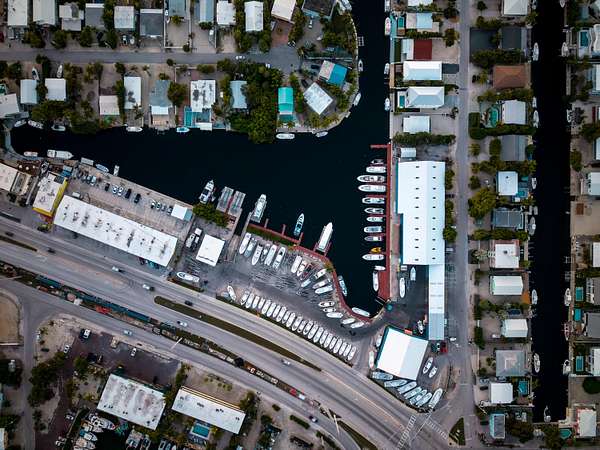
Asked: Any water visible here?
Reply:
Yes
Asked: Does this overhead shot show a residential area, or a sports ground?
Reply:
residential area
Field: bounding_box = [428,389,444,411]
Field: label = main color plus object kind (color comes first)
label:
white boat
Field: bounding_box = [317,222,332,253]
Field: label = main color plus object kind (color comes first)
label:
white boat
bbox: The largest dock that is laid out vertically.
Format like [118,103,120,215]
[378,143,391,303]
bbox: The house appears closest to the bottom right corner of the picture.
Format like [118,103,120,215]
[575,407,596,437]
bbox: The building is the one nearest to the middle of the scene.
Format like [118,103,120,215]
[196,234,224,266]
